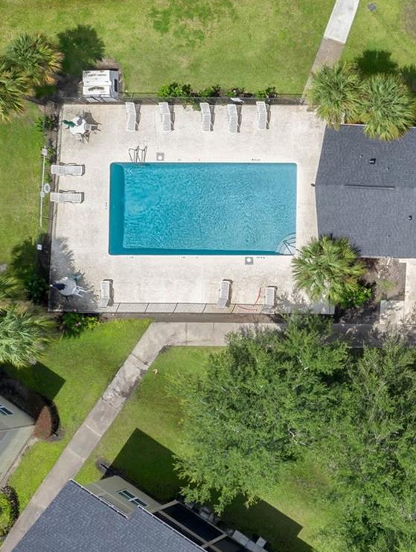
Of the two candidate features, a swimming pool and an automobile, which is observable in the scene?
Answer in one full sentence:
Looking from above, you can make out a swimming pool.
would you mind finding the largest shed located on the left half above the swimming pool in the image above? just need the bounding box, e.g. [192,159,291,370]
[79,69,116,99]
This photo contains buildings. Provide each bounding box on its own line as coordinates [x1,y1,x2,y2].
[308,124,416,260]
[1,471,249,552]
[79,69,116,99]
[0,399,37,468]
